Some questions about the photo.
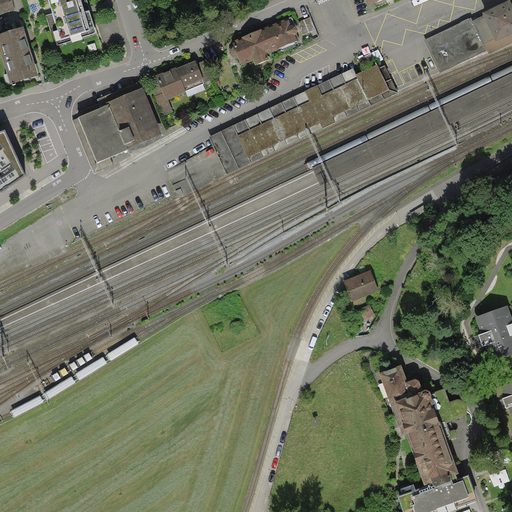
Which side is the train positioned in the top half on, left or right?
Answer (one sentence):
The train positioned in the top half is on the right side of the image.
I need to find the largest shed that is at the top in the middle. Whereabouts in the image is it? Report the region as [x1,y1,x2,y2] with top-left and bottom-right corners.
[210,64,396,174]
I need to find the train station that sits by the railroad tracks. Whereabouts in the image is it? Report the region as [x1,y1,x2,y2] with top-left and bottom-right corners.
[0,74,512,326]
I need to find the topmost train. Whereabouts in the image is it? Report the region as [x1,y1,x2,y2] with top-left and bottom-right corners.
[307,64,512,168]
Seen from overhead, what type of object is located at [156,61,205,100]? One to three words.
house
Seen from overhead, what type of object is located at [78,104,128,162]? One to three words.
building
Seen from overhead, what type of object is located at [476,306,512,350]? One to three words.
house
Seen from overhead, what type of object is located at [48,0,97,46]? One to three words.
building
